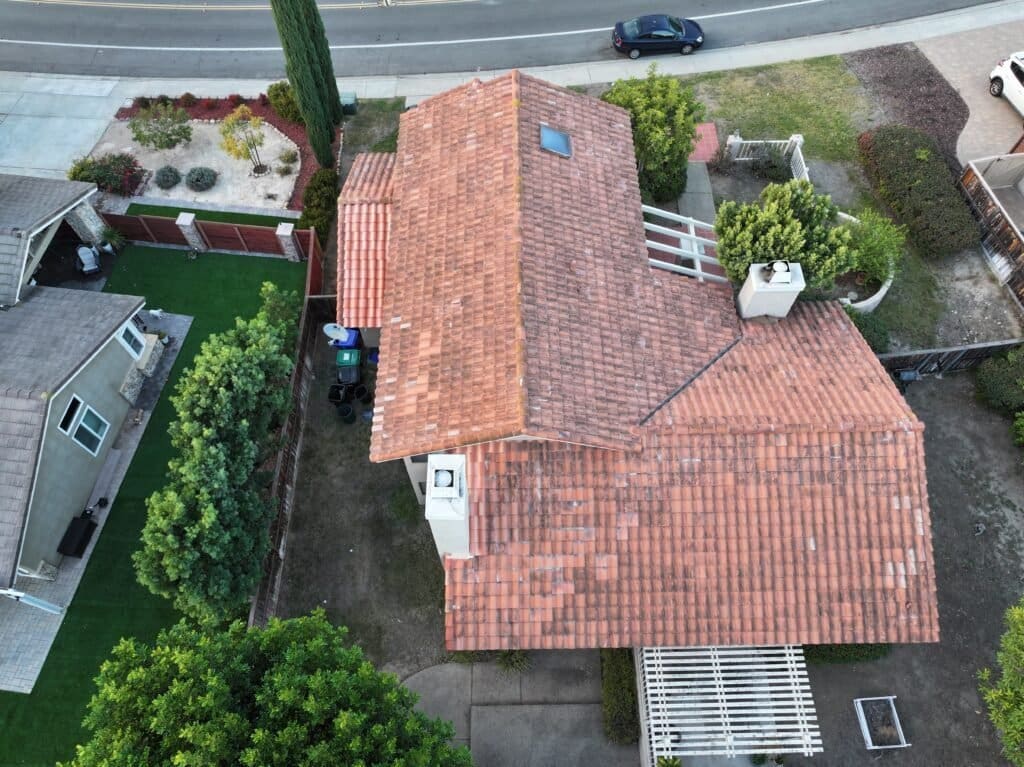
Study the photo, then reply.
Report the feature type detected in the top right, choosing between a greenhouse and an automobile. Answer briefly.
automobile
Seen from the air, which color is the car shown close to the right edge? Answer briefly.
white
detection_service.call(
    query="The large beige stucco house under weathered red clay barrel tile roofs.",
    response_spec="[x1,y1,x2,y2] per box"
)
[333,67,943,652]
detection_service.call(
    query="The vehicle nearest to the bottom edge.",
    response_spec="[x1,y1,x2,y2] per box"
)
[988,51,1024,117]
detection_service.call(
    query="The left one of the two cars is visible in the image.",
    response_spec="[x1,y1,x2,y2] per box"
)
[613,10,705,58]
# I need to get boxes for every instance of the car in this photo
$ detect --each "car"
[613,10,705,58]
[988,51,1024,117]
